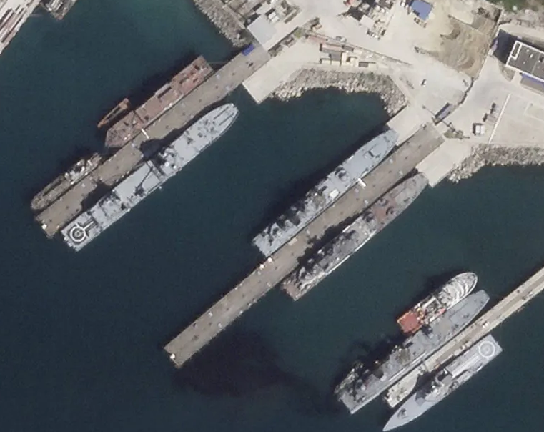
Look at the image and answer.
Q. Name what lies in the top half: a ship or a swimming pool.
ship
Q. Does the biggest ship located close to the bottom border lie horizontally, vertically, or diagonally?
diagonally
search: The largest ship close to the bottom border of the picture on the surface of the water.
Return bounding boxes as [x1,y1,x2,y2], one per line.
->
[338,290,488,415]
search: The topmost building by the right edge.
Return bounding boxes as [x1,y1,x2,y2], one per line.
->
[507,41,544,85]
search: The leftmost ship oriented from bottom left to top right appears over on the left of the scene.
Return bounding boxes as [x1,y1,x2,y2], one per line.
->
[31,157,100,209]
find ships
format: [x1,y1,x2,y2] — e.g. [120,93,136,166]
[338,290,488,415]
[106,56,213,145]
[282,173,428,303]
[399,275,477,333]
[31,157,100,209]
[97,100,129,126]
[253,130,398,257]
[61,103,239,251]
[384,337,501,431]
